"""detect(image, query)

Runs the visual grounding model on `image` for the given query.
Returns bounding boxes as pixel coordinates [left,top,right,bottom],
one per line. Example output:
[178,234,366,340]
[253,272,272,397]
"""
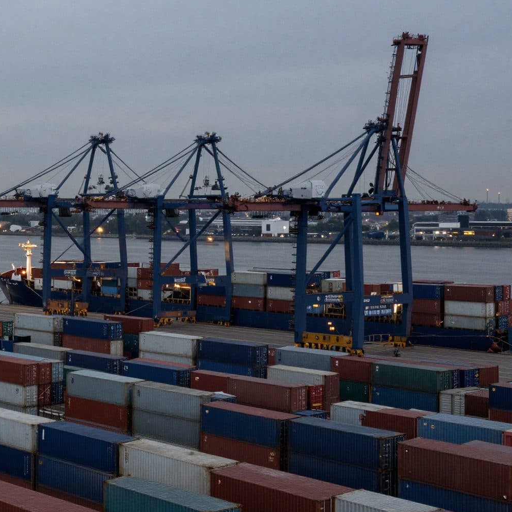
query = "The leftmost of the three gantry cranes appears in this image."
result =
[0,133,151,319]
